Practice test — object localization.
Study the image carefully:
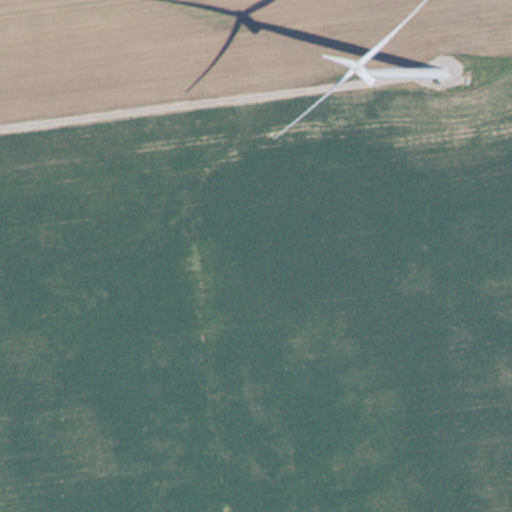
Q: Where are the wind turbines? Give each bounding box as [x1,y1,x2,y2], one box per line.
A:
[275,0,452,138]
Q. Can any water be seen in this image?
No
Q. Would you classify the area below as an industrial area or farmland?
farmland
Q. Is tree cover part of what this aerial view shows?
No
